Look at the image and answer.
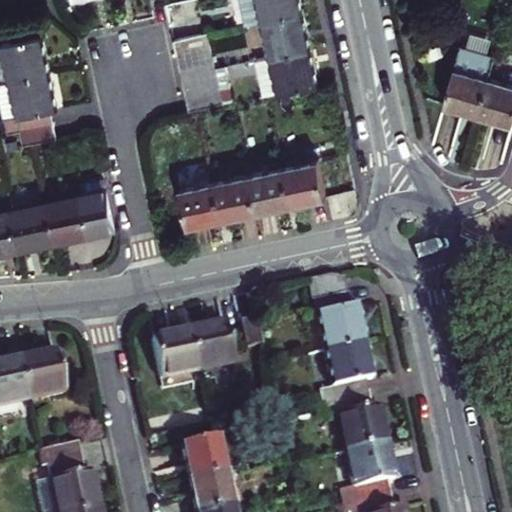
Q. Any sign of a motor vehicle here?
Yes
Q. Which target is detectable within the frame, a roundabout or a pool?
roundabout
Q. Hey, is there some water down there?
No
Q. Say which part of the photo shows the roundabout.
right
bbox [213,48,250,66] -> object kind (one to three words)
shed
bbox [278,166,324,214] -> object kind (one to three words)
house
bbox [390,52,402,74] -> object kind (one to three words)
vehicle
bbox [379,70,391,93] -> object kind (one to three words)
vehicle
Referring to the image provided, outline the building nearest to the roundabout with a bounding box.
[326,190,358,221]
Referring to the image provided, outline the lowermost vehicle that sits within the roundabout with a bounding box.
[414,238,448,257]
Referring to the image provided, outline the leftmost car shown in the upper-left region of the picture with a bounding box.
[88,40,100,60]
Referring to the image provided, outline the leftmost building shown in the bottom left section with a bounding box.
[0,352,36,406]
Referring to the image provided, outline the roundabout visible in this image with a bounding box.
[366,174,470,290]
